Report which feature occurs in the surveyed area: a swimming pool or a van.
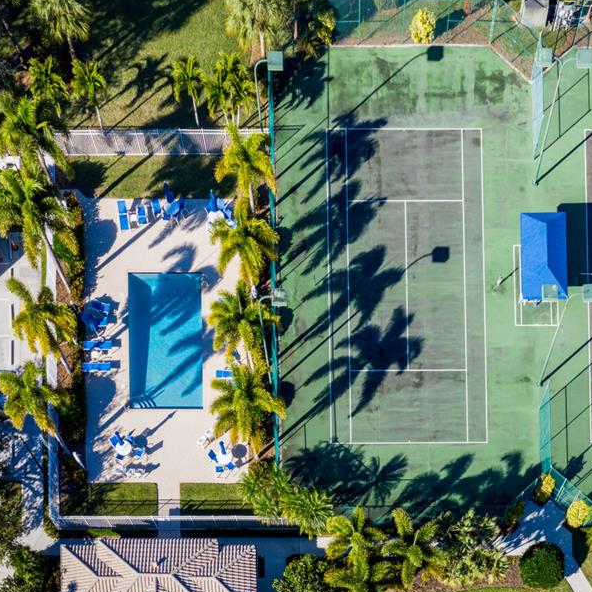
swimming pool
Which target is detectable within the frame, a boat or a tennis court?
tennis court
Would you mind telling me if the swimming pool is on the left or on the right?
left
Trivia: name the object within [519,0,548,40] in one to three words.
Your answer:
shed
